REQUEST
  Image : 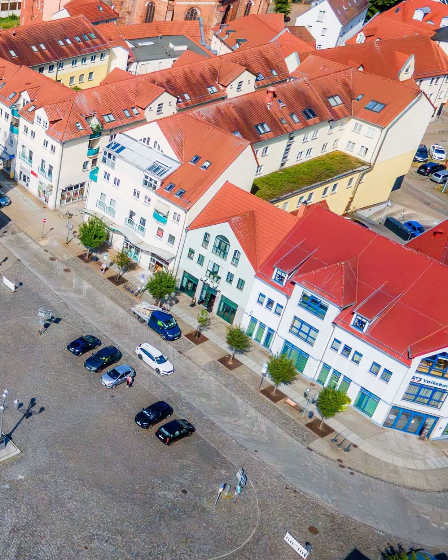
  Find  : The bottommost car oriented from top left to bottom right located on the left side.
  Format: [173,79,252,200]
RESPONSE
[133,342,175,376]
